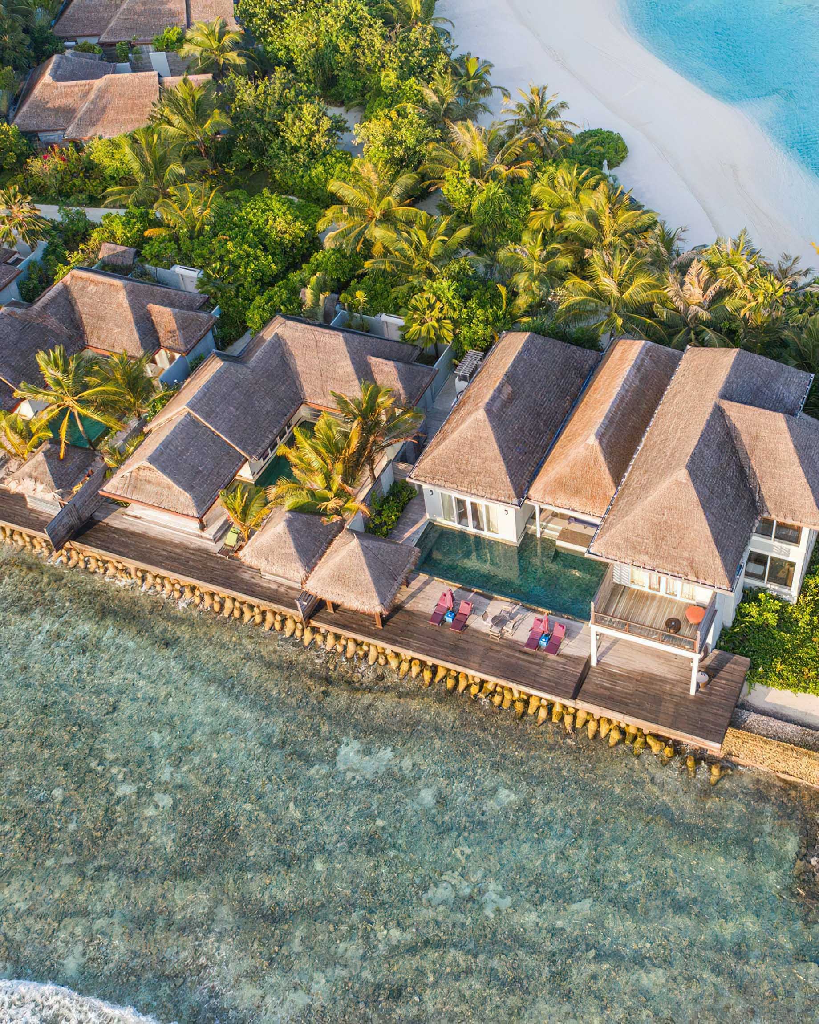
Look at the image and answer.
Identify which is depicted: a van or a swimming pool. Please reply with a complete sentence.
This aerial view contains a swimming pool.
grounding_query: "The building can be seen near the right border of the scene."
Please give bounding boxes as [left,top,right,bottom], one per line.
[584,345,819,696]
